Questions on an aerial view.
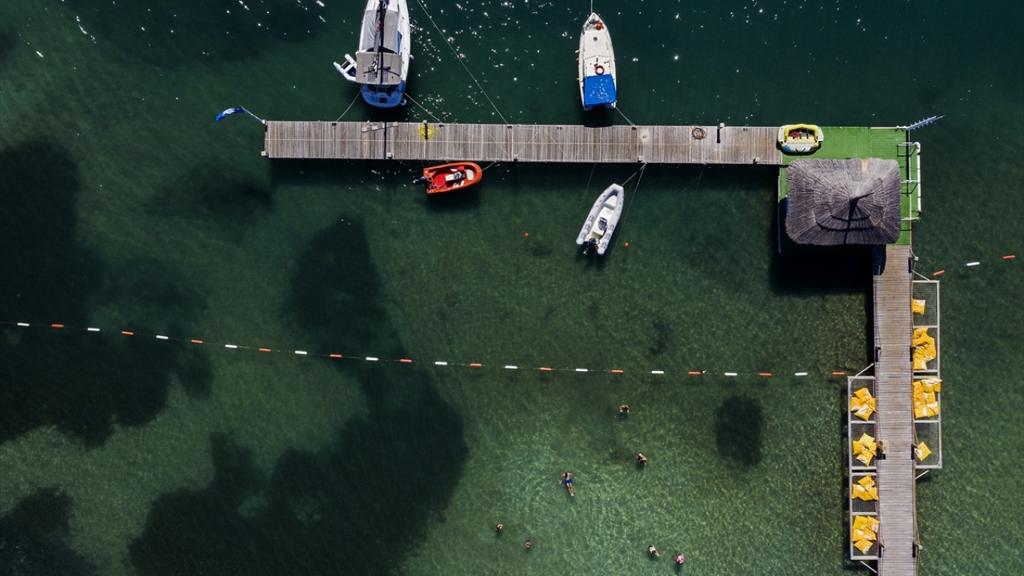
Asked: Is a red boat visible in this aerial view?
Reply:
Yes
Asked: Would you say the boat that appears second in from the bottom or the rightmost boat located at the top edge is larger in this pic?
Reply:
the rightmost boat located at the top edge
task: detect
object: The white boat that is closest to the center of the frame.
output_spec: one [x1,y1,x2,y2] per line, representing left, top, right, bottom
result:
[575,186,621,261]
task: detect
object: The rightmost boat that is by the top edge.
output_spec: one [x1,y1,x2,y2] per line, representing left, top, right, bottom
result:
[576,9,617,120]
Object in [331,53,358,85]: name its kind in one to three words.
boat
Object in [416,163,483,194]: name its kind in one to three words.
boat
